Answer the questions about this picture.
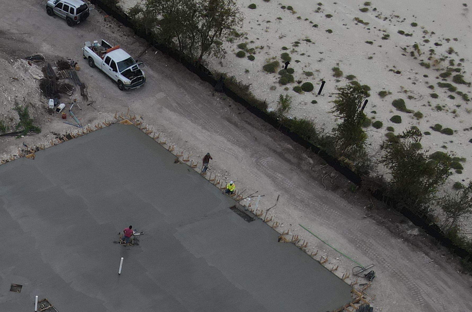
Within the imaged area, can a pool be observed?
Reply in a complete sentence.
No, there is no pool in the image.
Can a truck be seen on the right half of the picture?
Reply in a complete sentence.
No, I see no truck on the right half of the picture.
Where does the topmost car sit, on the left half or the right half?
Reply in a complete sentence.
The topmost car is on the left side of the image.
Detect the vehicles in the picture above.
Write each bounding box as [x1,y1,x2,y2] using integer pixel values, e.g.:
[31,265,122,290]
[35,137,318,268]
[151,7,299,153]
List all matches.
[82,40,148,91]
[45,0,91,27]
